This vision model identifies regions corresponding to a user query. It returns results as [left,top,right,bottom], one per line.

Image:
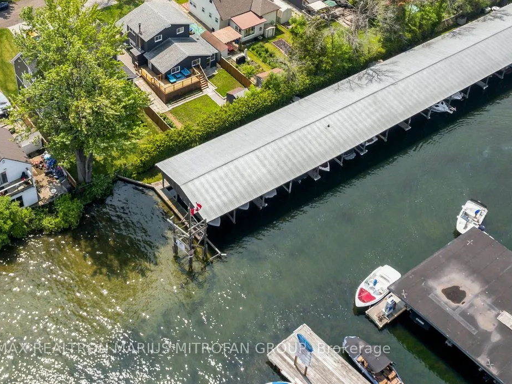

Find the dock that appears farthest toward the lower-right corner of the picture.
[365,293,409,330]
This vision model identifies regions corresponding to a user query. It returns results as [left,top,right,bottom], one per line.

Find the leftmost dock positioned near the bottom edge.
[262,323,362,384]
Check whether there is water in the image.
Yes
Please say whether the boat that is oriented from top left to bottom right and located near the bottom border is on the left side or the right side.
right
